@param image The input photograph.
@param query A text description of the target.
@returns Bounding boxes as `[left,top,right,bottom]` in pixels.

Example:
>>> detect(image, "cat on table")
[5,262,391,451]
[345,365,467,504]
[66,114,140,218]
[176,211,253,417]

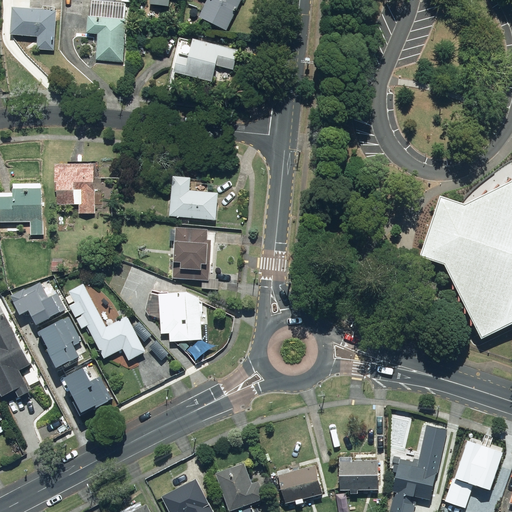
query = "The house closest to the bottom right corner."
[445,442,504,510]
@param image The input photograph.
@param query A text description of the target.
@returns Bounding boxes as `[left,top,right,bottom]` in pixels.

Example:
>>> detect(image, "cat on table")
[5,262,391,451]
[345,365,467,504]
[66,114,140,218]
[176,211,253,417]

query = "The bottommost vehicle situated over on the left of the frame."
[46,494,62,507]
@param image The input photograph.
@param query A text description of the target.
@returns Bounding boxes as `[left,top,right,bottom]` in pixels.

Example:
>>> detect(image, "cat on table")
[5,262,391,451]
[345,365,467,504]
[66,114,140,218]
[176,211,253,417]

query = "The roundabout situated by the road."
[242,302,338,394]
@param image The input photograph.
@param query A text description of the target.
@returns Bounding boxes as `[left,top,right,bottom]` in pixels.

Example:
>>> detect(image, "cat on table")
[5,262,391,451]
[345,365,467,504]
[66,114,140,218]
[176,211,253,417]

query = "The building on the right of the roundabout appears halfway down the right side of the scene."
[422,178,512,340]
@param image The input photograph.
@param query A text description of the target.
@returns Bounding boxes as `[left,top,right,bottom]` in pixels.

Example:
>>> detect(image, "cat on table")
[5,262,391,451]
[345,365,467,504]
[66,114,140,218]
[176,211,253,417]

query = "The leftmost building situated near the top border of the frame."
[10,6,55,50]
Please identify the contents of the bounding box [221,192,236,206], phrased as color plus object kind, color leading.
white vehicle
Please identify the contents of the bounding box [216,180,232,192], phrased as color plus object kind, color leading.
white vehicle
